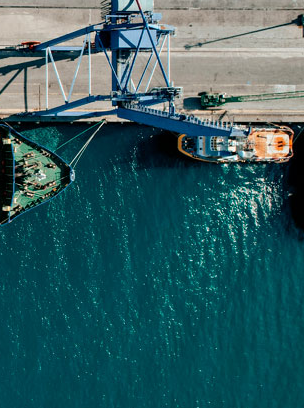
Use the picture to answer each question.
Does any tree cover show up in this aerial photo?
No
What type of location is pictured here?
port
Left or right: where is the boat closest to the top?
right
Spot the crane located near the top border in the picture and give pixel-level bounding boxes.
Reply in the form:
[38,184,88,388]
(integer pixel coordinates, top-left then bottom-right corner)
[16,0,248,136]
